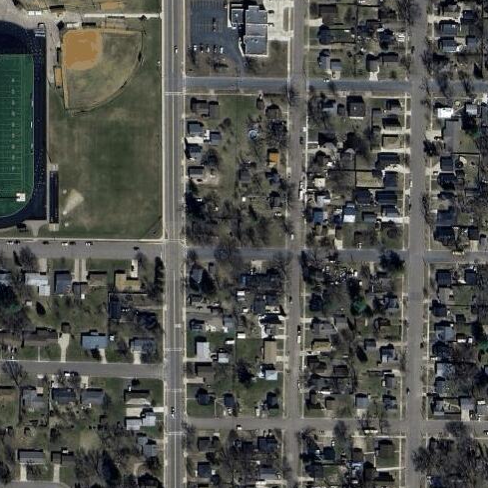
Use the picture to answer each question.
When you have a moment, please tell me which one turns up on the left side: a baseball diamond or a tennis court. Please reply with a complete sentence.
Visible on the left side is a baseball diamond.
